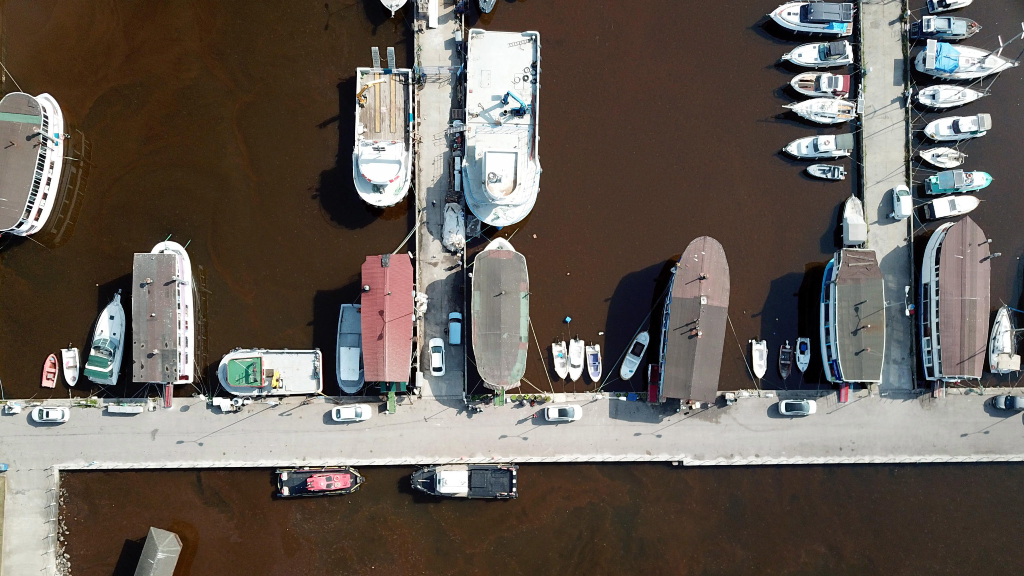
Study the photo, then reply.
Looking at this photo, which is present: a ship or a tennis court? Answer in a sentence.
This aerial view contains a ship.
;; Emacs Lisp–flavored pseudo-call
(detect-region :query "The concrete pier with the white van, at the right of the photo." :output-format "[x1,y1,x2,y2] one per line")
[855,0,916,389]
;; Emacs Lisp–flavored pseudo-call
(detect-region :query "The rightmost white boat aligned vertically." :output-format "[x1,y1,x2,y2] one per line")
[986,298,1024,388]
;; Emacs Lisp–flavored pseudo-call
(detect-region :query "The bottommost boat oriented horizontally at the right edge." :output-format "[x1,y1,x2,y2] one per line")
[914,194,987,219]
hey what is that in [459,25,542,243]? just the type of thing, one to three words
ship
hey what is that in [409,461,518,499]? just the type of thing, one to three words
boat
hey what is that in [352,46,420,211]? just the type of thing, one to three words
ship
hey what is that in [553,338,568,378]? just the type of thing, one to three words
boat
